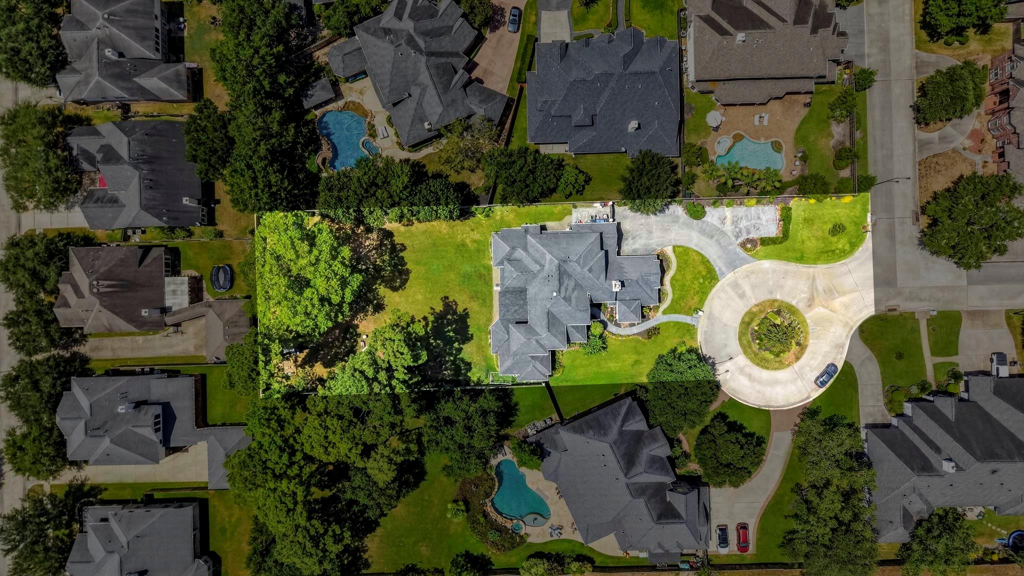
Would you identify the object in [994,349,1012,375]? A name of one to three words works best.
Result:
vehicle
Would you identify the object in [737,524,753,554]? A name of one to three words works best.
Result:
car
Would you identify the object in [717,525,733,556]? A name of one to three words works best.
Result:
car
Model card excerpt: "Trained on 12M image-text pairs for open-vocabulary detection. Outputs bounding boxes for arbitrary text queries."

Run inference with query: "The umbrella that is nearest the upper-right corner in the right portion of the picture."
[706,111,723,128]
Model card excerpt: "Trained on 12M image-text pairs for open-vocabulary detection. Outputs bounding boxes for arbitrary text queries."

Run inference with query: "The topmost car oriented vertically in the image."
[507,2,521,33]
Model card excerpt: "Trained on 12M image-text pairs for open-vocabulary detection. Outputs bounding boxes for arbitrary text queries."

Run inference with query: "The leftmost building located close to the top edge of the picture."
[42,0,198,106]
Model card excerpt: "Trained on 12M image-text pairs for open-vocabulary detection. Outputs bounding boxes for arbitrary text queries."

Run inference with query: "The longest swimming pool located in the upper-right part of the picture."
[713,130,787,174]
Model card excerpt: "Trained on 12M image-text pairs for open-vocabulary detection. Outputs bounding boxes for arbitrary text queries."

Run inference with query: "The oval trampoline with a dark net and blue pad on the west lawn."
[204,264,230,292]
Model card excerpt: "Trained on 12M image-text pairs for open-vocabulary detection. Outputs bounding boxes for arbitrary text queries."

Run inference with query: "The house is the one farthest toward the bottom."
[48,498,213,576]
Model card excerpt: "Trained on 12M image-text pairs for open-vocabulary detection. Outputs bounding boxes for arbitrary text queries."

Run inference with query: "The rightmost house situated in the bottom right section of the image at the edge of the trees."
[861,375,1024,543]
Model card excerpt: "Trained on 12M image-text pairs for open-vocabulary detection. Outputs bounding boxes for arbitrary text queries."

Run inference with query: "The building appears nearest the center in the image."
[491,222,664,382]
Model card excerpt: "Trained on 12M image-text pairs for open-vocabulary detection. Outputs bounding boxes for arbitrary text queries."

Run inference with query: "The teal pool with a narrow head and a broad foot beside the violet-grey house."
[490,458,552,521]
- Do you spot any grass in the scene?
Yes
